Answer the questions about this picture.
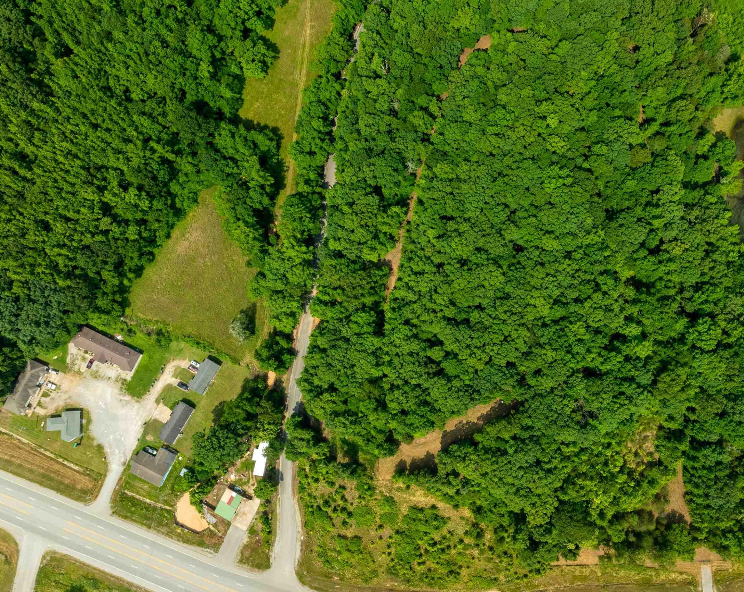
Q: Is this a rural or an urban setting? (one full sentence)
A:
From above, the setting appears rural.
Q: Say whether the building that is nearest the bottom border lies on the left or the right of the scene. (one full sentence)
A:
The building that is nearest the bottom border appears in the left half of the scene.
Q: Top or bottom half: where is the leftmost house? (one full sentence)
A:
It is in the bottom half that the leftmost house appears.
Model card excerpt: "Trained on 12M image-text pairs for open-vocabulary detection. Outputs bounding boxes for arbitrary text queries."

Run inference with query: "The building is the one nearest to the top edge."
[75,326,146,374]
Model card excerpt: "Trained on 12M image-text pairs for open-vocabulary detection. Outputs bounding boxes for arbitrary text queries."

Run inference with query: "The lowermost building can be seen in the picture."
[209,489,244,521]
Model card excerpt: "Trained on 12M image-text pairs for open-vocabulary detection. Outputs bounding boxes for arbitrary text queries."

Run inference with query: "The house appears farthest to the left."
[3,359,54,415]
